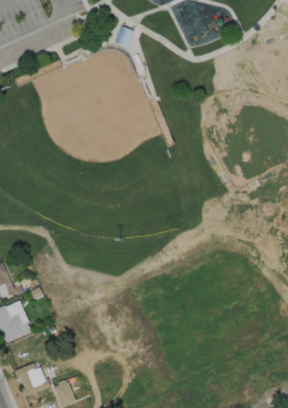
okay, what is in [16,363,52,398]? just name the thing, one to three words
house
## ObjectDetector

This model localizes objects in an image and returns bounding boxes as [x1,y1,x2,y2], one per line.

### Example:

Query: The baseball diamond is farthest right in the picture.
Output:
[222,106,288,188]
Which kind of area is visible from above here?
sports ground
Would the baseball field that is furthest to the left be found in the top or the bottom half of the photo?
top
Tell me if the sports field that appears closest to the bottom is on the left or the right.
right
